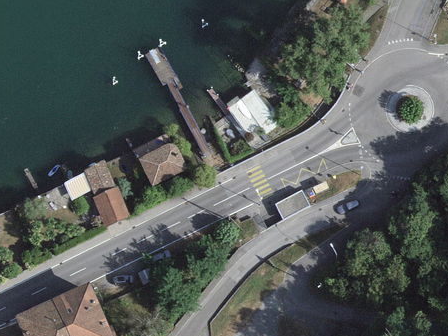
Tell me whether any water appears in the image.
Yes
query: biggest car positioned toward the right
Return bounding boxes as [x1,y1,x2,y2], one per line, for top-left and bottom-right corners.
[336,198,360,214]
